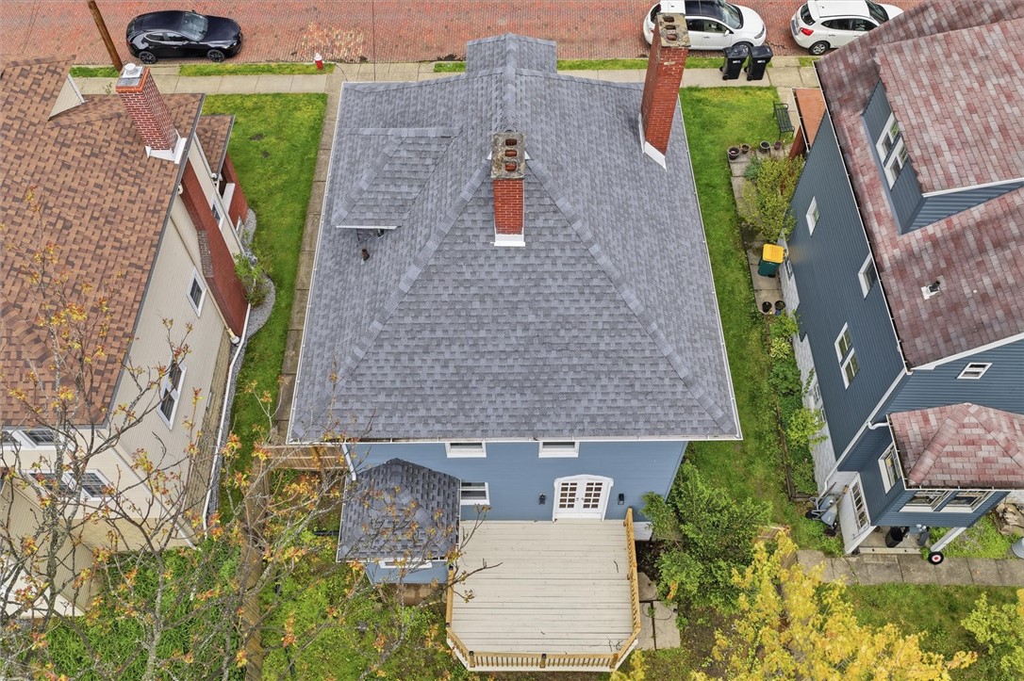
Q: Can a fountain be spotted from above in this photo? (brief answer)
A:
No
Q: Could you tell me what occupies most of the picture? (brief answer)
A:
buildings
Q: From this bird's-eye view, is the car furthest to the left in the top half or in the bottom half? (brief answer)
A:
top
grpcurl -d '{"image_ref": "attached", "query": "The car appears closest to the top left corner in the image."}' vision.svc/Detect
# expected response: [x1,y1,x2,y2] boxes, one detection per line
[126,8,245,62]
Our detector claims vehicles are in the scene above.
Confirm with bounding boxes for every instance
[647,2,765,54]
[126,8,245,62]
[786,0,892,58]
